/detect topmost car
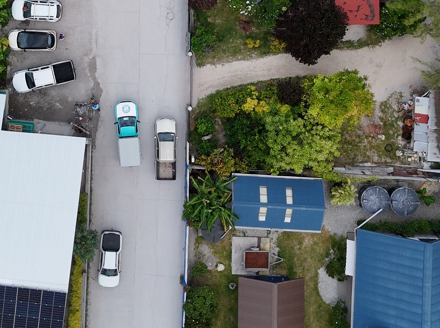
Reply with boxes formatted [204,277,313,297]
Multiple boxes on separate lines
[11,0,63,24]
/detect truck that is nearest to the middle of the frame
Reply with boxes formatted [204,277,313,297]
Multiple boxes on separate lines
[152,115,179,180]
